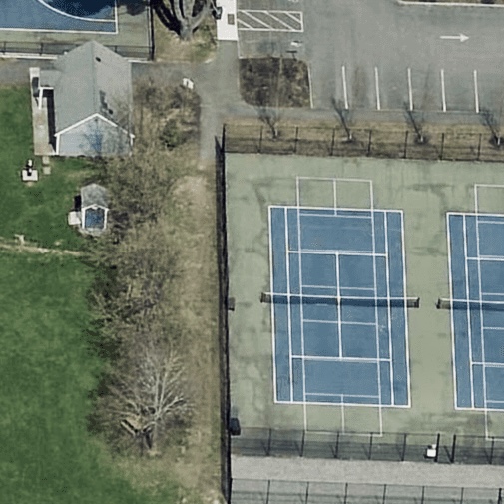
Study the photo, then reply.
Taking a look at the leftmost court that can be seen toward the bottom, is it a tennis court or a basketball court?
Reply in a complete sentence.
The leftmost court that can be seen toward the bottom can be classified as a tennis court.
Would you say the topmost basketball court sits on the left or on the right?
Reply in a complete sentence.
The topmost basketball court sits on the left side.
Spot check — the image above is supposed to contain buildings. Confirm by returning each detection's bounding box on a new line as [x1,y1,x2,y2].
[82,184,110,234]
[40,42,136,158]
